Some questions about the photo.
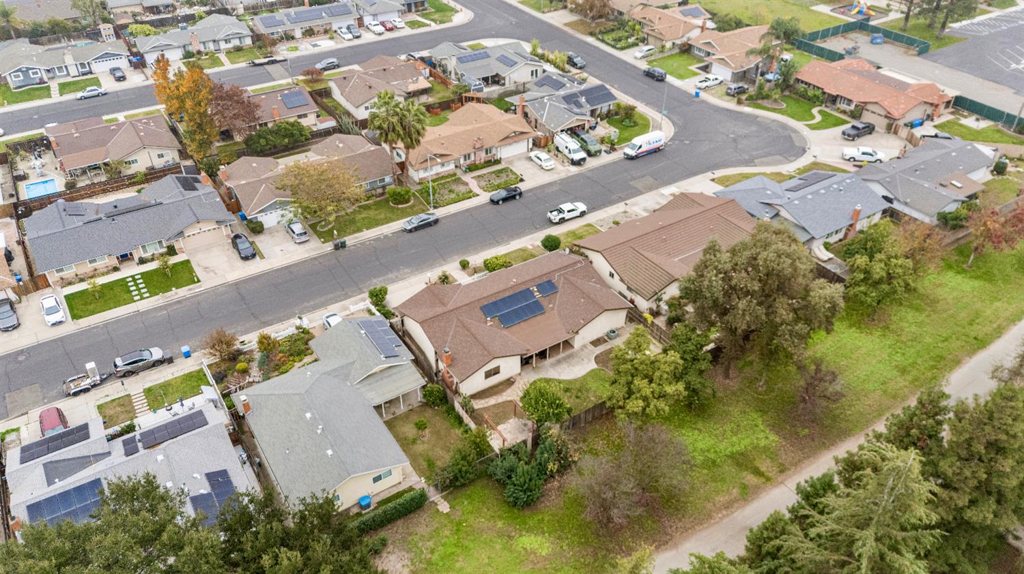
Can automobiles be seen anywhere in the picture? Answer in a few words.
Yes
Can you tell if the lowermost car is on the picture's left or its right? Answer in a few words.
left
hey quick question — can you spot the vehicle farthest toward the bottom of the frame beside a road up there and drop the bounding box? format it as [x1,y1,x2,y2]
[39,408,66,437]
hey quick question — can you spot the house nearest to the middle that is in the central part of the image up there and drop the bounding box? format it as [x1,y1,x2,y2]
[396,249,633,395]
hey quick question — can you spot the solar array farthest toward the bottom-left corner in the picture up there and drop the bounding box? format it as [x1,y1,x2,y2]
[26,478,105,528]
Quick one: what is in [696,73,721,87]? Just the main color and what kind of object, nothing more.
white vehicle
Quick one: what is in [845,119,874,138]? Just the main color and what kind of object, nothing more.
gray vehicle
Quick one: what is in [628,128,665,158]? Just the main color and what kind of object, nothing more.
white van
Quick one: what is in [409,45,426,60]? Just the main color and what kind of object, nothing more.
white car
